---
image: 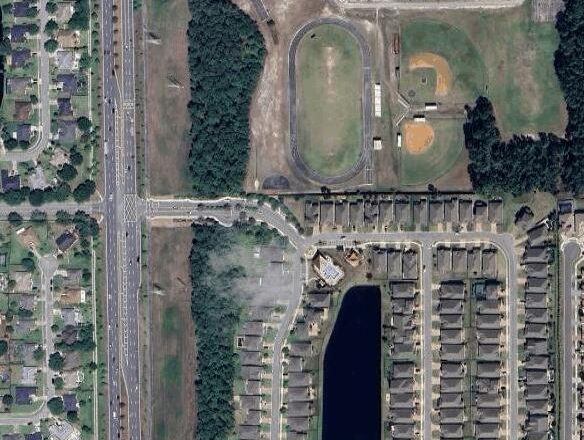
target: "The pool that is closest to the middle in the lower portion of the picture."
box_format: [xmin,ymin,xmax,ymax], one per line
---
[313,256,345,286]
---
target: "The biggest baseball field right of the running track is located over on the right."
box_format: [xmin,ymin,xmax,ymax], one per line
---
[401,19,485,105]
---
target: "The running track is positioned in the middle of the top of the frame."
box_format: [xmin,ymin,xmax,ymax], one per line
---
[289,18,371,184]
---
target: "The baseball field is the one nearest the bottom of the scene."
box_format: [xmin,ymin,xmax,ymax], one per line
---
[401,118,466,184]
